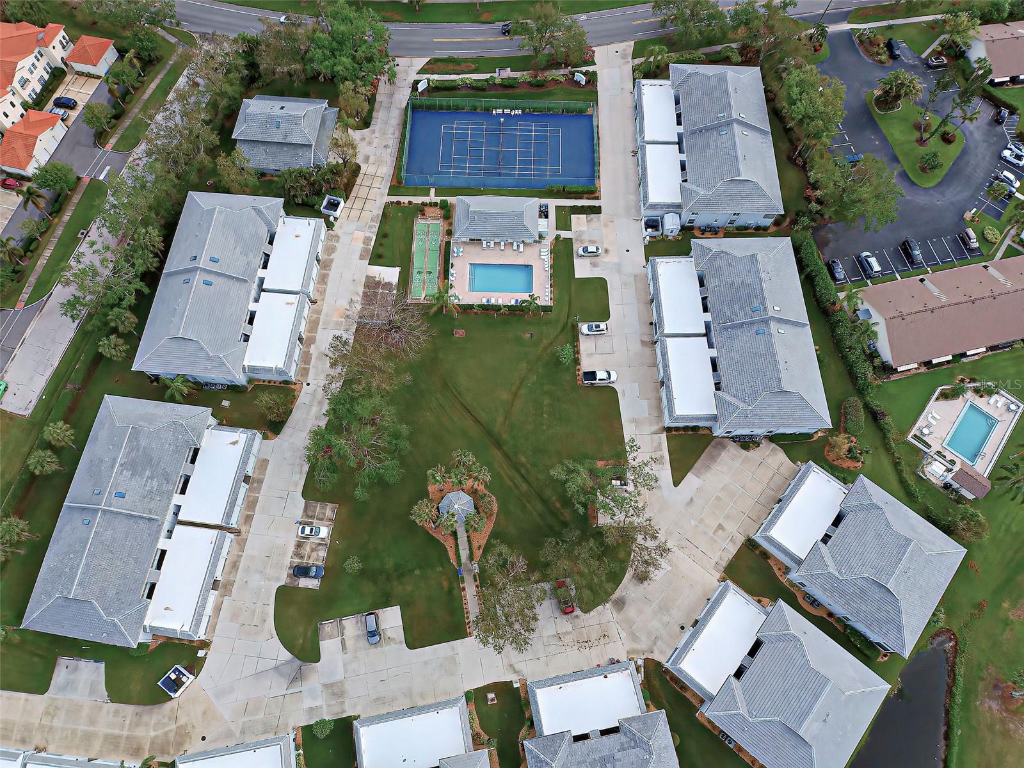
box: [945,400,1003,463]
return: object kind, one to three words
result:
swimming pool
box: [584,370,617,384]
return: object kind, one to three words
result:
vehicle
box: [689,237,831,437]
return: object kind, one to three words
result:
building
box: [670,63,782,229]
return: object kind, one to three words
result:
building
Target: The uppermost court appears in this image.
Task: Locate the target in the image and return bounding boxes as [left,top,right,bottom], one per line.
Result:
[403,110,596,188]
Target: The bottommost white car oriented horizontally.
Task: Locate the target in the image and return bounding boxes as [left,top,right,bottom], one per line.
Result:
[296,525,329,539]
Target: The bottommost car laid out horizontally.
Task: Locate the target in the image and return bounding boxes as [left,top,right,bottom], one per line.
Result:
[291,564,325,578]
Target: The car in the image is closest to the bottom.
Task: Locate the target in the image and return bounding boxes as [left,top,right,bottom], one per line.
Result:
[365,610,380,645]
